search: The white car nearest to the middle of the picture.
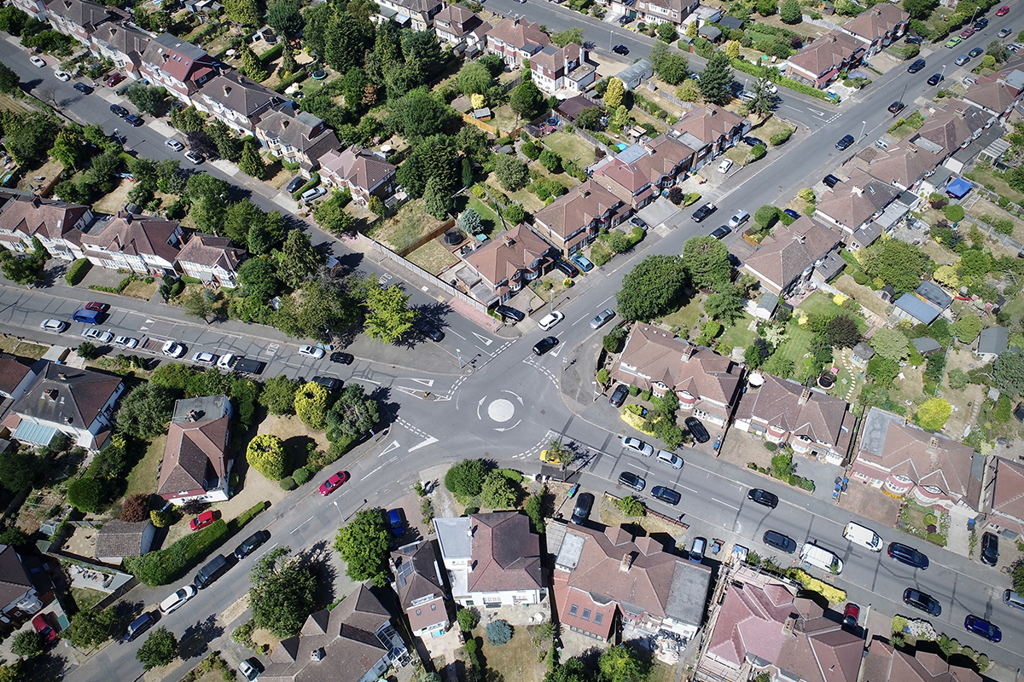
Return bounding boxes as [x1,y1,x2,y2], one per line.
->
[537,310,565,331]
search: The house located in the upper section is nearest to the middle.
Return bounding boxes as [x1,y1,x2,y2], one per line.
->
[455,222,554,313]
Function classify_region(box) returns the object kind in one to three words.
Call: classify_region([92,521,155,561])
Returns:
building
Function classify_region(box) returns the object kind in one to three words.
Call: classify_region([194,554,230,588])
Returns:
van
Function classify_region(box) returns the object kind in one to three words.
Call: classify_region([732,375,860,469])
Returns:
house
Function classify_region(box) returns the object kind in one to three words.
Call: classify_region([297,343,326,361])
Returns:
car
